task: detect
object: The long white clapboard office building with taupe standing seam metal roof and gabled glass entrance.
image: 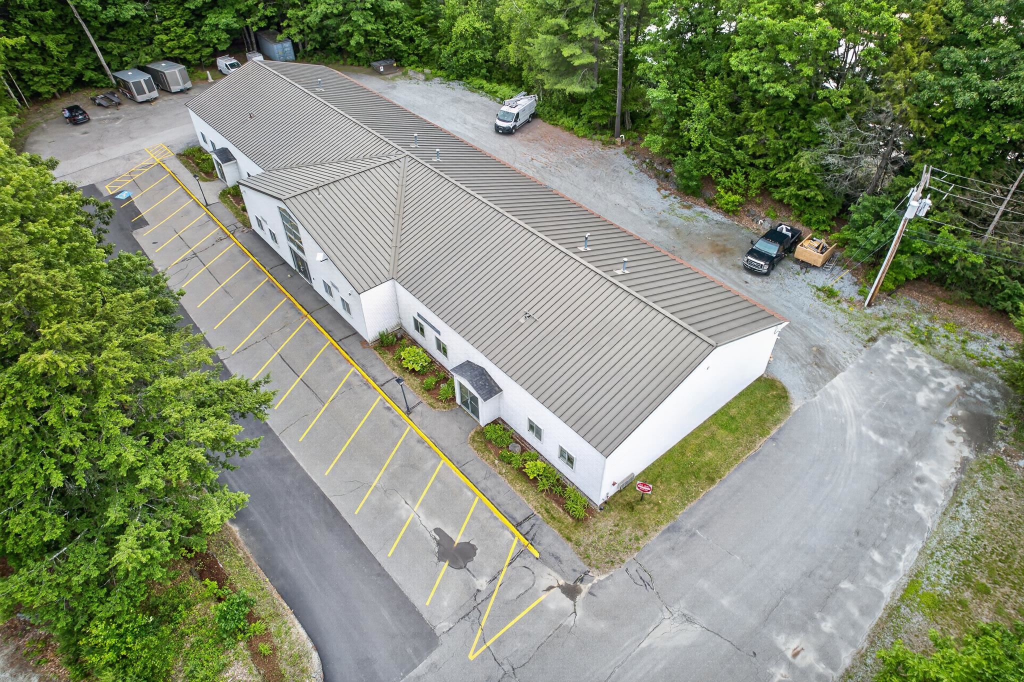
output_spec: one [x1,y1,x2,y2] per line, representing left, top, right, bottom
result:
[184,57,792,507]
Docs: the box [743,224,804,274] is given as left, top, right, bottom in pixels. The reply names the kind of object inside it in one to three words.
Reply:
truck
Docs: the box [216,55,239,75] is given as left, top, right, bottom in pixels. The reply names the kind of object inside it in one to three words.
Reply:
vehicle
